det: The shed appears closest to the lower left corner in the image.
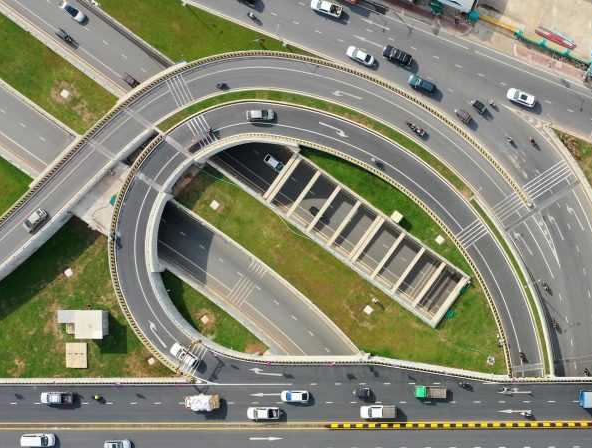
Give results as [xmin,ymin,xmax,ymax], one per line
[58,309,116,339]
